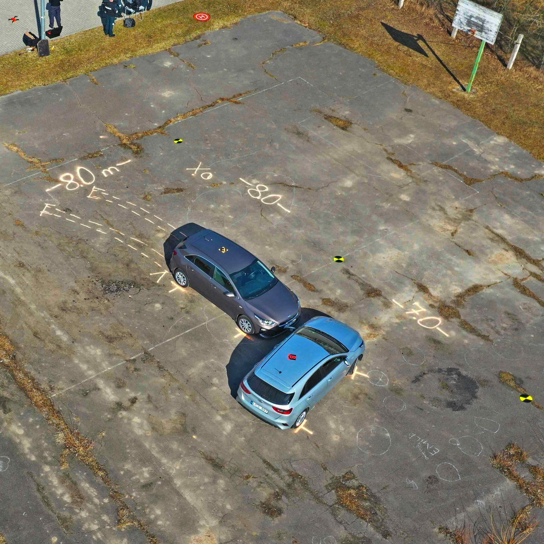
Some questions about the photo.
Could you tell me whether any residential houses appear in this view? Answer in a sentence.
No, the photo shows no residential house.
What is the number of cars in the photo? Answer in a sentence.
My tally gives 2 cars in this view.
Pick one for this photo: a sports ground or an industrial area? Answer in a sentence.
It's a sports ground.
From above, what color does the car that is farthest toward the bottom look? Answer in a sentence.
In this view, the car that is farthest toward the bottom is blue.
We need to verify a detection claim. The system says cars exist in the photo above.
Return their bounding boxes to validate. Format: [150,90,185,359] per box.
[170,230,304,336]
[235,318,364,430]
